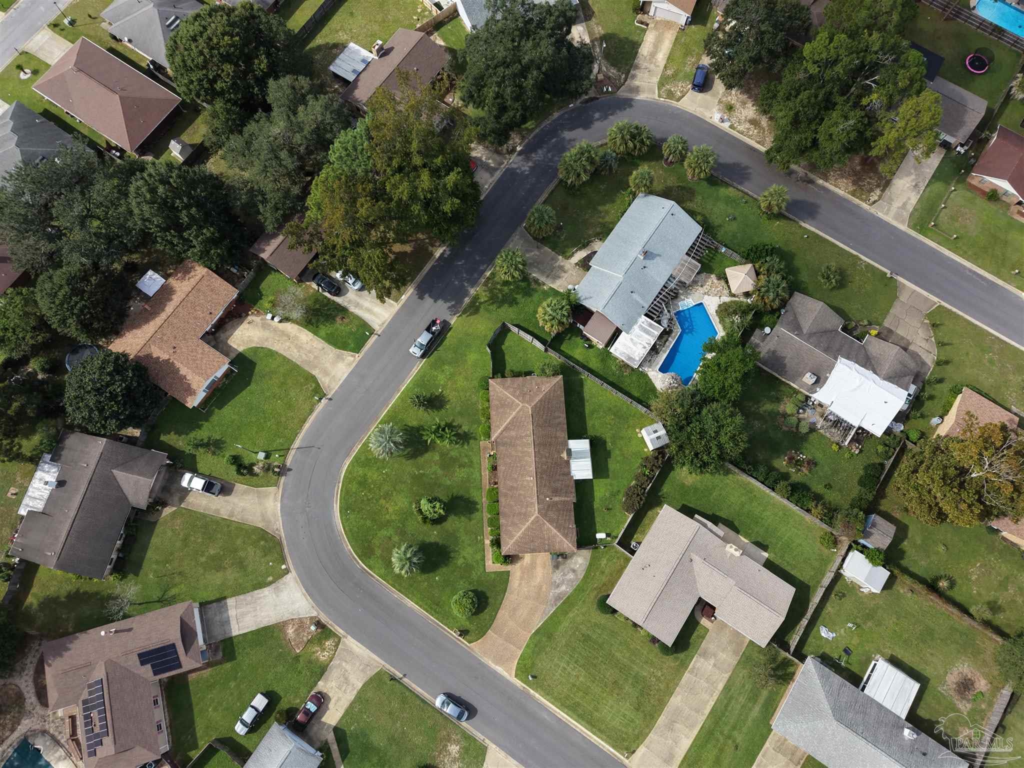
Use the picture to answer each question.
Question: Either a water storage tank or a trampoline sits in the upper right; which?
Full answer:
It is a trampoline that can be seen in the upper right.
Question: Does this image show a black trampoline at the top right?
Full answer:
Yes, a black trampoline appears at the top right.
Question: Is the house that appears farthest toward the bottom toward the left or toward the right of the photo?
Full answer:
The house that appears farthest toward the bottom sits on the left side.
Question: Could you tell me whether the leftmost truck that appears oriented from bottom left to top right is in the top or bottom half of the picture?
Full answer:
It is in the bottom half that the leftmost truck that appears oriented from bottom left to top right appears.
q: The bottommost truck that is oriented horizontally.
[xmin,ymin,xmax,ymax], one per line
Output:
[179,472,225,496]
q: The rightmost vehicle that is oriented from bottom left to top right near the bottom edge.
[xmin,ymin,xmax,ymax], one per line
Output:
[293,691,325,731]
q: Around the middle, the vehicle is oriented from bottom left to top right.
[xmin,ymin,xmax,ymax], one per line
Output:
[409,315,447,358]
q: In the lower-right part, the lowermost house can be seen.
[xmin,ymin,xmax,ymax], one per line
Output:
[769,656,976,768]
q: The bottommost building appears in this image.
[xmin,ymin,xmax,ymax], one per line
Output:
[242,720,328,768]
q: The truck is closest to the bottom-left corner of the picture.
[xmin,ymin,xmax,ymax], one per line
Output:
[233,691,274,735]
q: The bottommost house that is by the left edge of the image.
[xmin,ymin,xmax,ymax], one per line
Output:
[42,600,209,768]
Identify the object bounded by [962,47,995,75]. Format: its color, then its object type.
black trampoline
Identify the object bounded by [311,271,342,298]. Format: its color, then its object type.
black car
